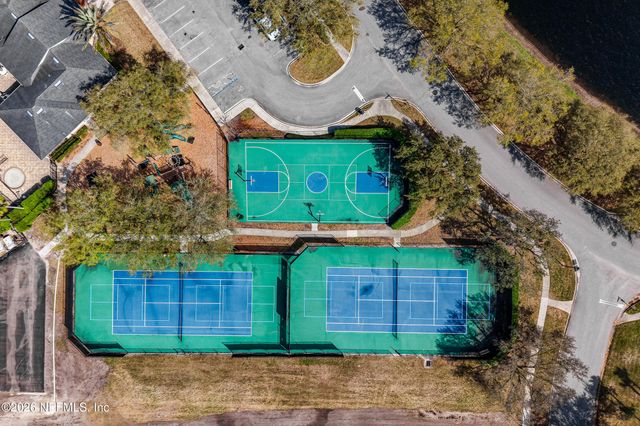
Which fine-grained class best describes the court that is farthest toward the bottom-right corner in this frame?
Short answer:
tennis court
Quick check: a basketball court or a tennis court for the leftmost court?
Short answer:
tennis court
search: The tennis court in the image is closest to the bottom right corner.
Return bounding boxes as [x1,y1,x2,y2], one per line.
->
[291,246,504,353]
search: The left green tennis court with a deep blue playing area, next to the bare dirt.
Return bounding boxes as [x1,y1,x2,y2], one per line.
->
[74,253,291,353]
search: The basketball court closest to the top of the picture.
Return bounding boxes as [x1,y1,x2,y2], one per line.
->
[229,139,406,222]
